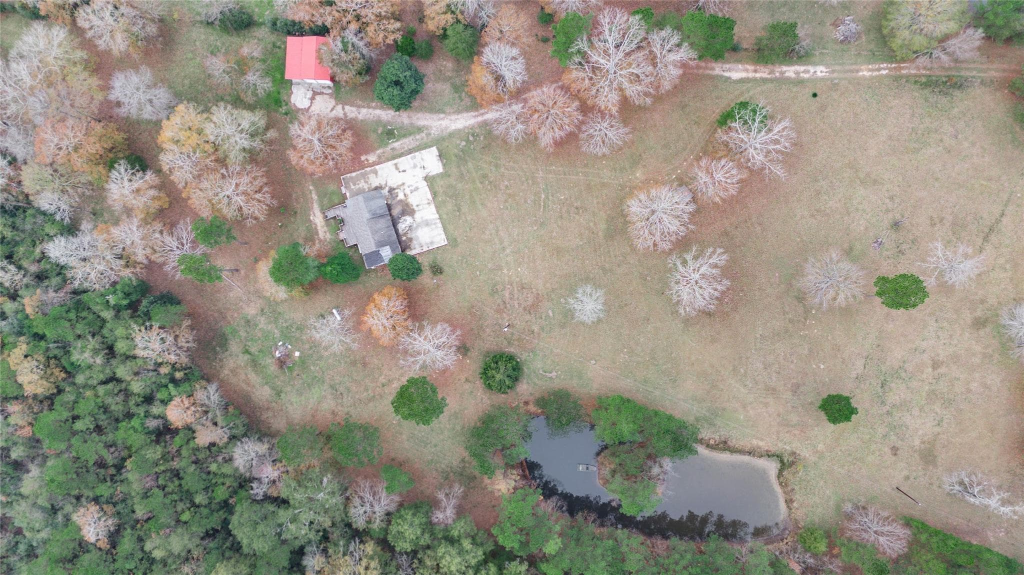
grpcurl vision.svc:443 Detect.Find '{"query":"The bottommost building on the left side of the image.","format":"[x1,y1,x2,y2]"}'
[346,190,401,269]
